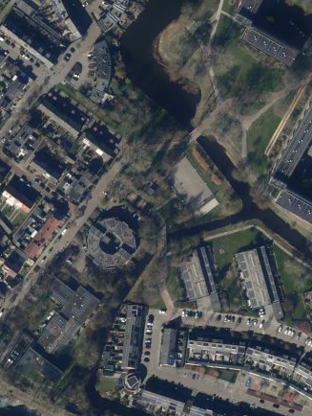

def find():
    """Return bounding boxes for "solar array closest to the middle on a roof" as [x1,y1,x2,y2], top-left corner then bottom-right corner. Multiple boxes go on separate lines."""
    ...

[183,259,204,299]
